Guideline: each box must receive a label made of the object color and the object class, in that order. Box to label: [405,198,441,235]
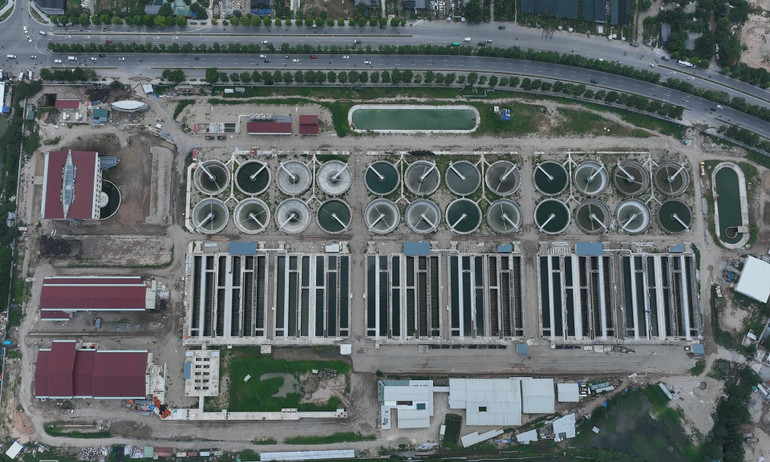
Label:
gray storage tank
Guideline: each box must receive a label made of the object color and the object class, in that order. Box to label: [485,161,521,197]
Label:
gray storage tank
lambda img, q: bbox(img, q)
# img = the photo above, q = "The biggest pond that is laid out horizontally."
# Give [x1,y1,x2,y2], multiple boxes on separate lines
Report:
[347,105,480,133]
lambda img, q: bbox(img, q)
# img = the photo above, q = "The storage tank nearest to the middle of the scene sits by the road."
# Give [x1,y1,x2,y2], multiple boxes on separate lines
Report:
[364,198,401,235]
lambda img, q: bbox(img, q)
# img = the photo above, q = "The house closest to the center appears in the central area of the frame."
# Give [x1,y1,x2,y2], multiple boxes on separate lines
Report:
[404,242,429,254]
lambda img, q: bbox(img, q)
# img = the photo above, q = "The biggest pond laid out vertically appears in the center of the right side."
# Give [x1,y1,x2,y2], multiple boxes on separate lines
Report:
[711,163,749,248]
